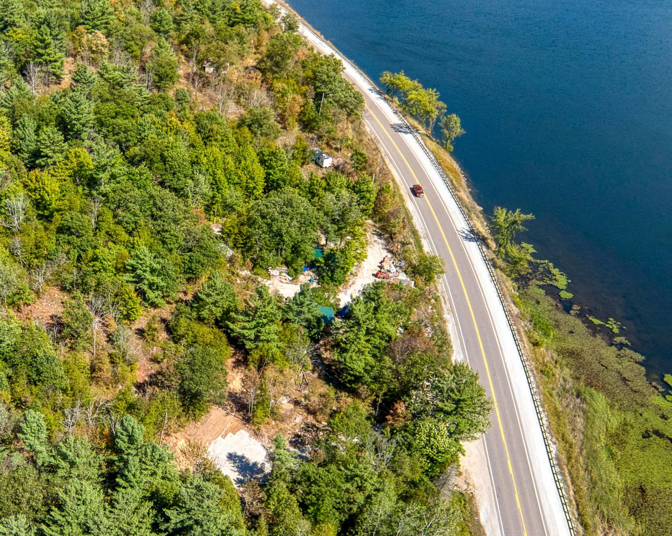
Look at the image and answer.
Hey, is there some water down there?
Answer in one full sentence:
Yes, there's water in this view.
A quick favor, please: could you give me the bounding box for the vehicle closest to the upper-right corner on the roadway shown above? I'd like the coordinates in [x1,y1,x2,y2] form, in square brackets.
[413,183,426,195]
